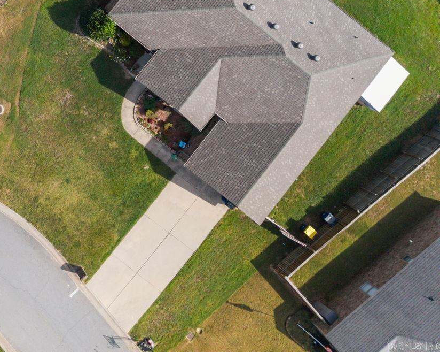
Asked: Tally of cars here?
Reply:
0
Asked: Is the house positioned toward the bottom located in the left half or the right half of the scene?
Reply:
right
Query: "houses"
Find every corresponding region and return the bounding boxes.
[312,209,440,352]
[108,0,394,226]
